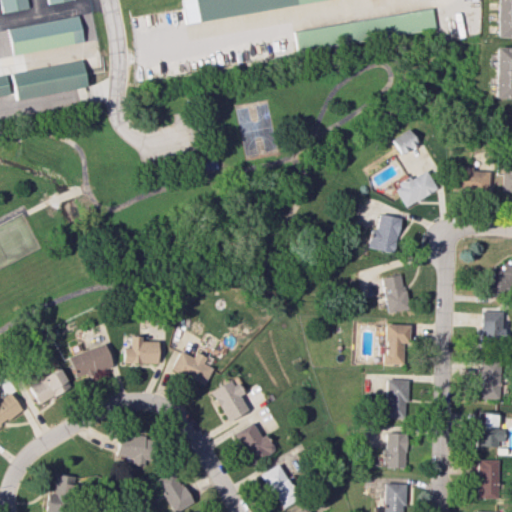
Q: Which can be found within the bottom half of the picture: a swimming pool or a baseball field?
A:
swimming pool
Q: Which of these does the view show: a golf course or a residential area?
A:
residential area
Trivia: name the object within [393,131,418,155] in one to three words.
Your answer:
building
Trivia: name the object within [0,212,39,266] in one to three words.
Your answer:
sports court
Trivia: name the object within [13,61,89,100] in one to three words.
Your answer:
shed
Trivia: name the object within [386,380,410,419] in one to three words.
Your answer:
house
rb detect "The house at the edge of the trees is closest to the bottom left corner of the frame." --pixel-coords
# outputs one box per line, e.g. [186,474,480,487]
[46,476,76,512]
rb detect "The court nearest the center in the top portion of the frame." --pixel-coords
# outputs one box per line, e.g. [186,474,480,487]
[235,100,280,160]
